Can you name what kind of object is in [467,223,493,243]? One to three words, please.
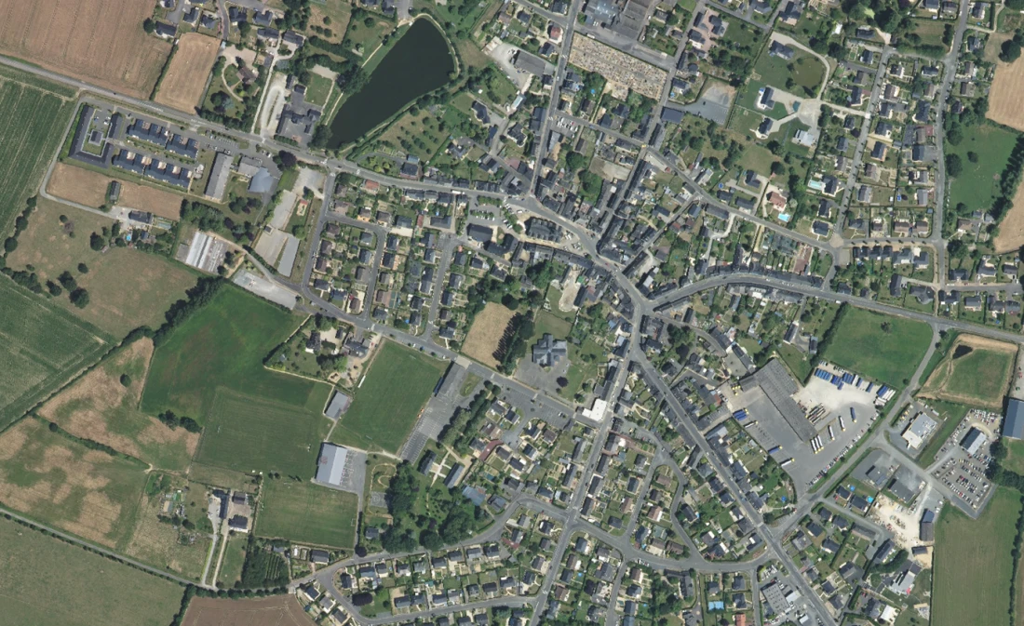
building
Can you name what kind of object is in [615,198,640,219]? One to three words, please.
house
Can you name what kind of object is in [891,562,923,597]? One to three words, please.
building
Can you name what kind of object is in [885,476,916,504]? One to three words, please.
house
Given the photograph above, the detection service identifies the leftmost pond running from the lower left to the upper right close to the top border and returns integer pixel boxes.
[327,17,455,148]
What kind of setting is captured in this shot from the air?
residential area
